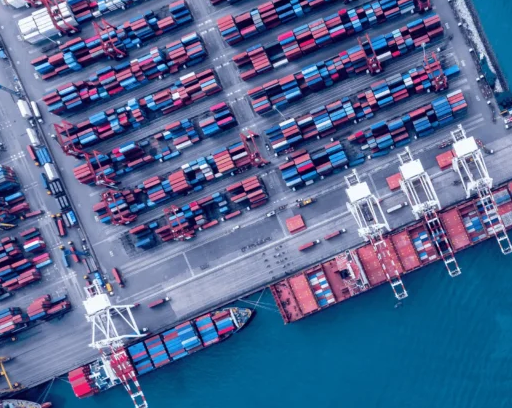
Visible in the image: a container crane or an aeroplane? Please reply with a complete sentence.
Visible in the photo is a container crane.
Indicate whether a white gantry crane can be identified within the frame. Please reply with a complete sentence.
Yes, a white gantry crane can be made out from above.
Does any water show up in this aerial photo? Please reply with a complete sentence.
Yes, there is water in the image.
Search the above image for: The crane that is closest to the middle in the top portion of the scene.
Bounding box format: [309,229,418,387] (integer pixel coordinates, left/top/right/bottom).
[236,129,270,170]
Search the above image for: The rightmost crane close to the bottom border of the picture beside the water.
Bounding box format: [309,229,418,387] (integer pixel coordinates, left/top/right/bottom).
[76,277,151,408]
